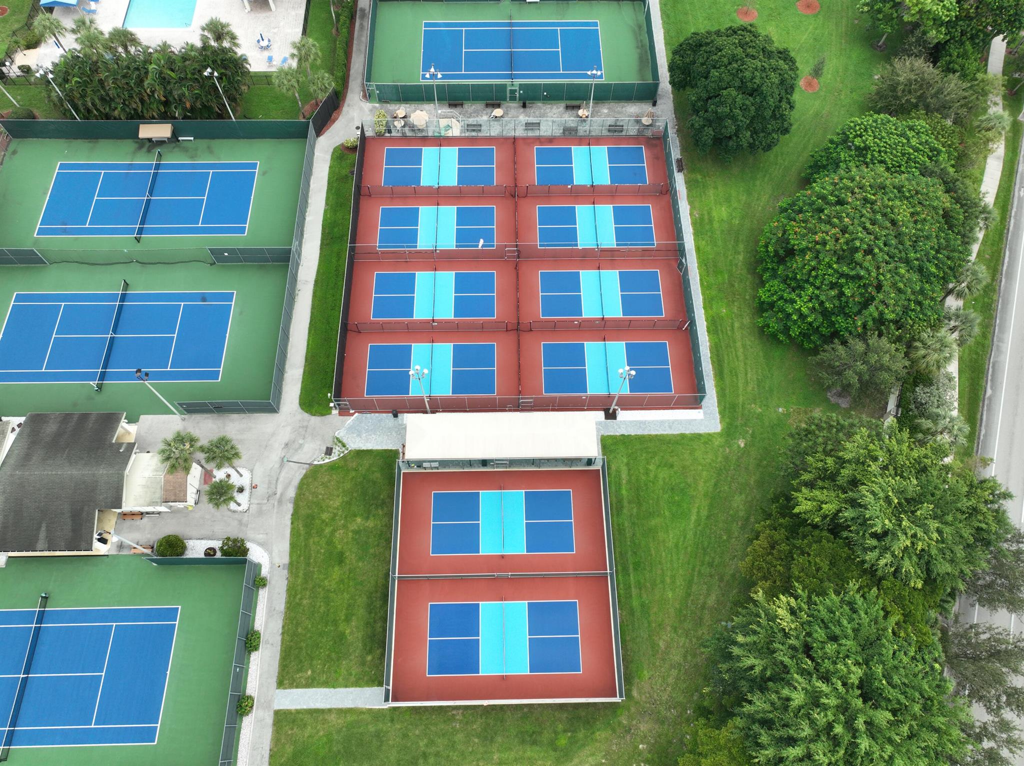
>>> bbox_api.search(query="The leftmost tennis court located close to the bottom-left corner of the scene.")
[0,554,263,766]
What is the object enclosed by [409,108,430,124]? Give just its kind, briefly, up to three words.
umbrella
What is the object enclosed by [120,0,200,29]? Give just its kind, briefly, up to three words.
swimming pool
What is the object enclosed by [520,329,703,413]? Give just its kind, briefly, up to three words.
sports court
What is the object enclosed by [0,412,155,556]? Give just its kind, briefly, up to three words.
building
